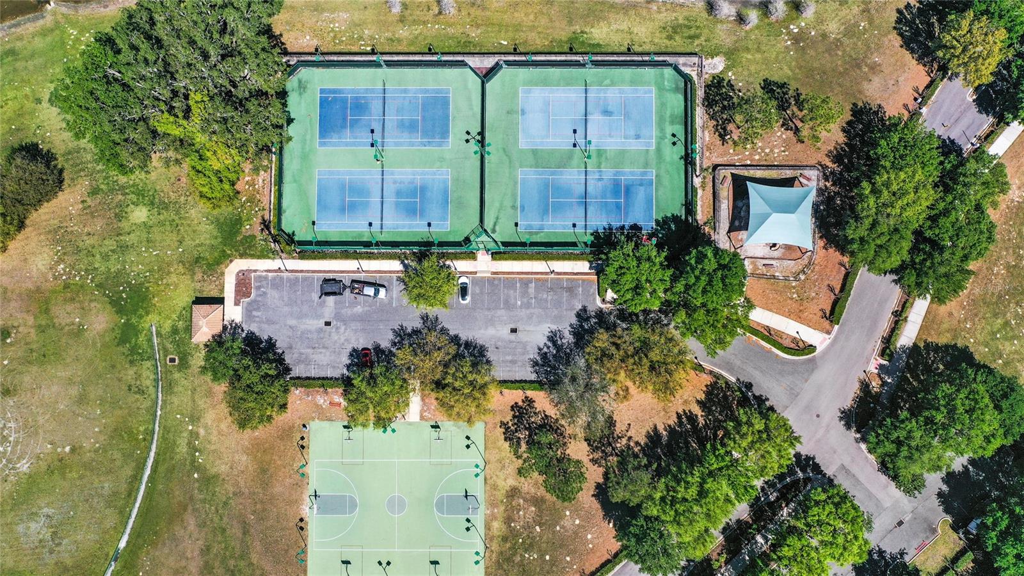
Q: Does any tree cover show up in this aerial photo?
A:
Yes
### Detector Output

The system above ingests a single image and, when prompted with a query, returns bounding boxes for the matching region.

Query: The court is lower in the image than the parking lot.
[308,422,486,576]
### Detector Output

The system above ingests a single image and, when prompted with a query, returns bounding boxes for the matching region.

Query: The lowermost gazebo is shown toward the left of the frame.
[191,304,229,342]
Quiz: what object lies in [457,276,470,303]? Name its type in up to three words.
vehicle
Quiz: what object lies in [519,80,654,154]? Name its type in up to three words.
tennis court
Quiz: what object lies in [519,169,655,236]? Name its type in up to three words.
tennis court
